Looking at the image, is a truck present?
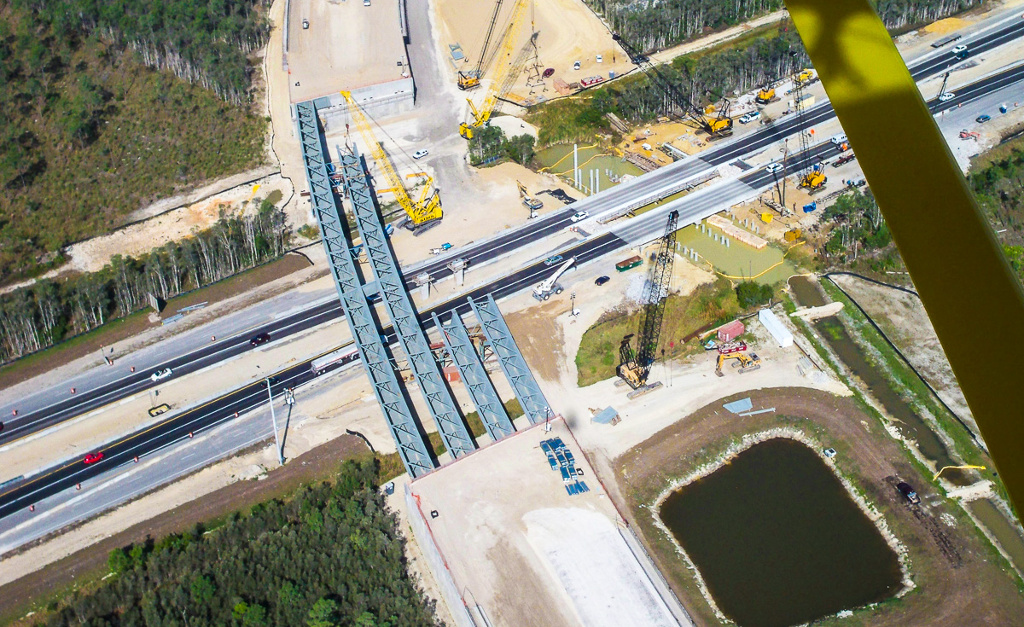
Yes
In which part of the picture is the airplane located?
right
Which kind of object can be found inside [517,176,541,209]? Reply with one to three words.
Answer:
work vehicle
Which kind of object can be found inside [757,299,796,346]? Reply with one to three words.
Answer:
trailer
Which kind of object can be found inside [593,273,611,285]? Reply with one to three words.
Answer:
vehicle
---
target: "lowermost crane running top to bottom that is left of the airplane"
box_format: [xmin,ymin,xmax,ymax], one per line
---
[609,211,681,391]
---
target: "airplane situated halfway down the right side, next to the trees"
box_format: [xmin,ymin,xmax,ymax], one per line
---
[784,0,1024,541]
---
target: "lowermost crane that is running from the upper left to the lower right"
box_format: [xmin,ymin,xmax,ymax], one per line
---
[343,92,449,233]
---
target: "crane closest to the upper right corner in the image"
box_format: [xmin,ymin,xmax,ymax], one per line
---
[791,49,836,192]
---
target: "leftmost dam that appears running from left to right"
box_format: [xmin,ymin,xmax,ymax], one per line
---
[793,301,843,320]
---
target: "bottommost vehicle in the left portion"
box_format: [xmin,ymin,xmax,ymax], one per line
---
[80,450,105,463]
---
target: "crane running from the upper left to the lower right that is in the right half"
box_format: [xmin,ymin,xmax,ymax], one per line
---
[610,33,744,141]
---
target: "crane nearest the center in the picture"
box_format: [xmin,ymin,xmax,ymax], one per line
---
[534,259,577,300]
